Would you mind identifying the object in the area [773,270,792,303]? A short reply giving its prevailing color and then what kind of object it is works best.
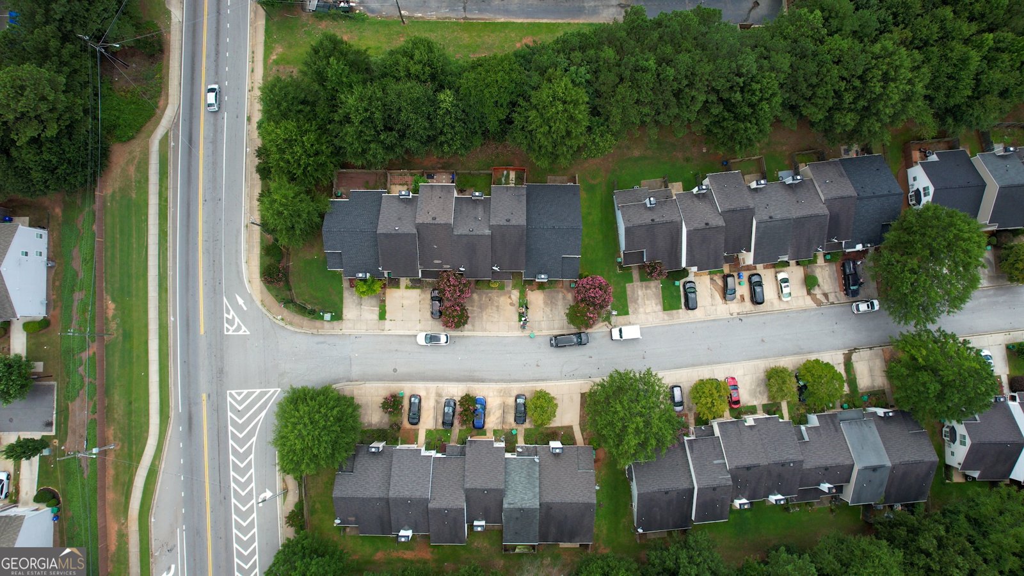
white car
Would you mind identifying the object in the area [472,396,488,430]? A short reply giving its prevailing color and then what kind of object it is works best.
blue car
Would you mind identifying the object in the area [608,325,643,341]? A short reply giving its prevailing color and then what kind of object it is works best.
white vehicle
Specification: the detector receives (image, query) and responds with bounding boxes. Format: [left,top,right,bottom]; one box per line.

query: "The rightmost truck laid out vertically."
[840,259,862,298]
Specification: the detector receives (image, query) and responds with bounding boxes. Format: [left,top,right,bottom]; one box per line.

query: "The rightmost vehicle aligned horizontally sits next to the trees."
[848,299,880,315]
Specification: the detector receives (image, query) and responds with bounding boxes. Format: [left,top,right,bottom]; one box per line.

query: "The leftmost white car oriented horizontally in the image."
[416,331,450,347]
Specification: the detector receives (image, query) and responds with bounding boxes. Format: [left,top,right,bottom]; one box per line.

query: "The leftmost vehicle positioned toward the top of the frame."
[206,84,222,113]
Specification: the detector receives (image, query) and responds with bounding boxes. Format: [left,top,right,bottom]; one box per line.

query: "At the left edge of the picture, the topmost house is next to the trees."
[0,224,48,321]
